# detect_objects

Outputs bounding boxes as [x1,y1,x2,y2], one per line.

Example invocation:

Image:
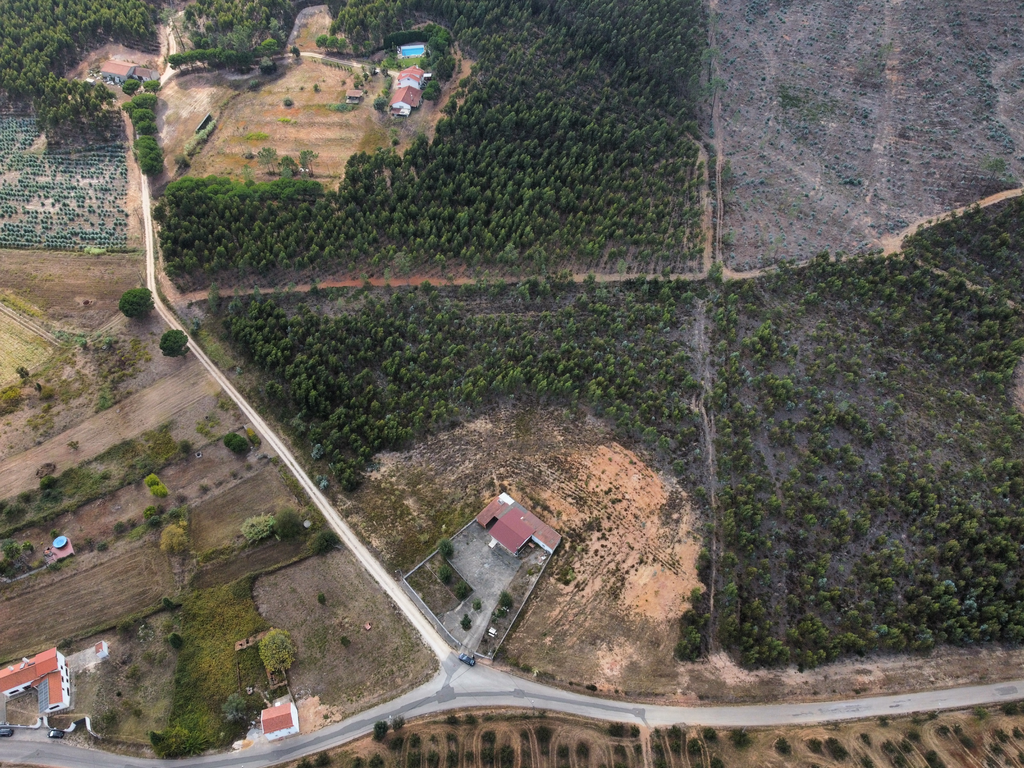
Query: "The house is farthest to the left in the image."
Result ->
[0,647,69,716]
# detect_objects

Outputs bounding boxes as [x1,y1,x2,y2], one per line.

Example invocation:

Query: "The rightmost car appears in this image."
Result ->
[457,653,476,668]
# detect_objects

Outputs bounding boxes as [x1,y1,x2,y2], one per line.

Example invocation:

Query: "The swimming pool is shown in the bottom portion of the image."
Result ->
[52,535,69,550]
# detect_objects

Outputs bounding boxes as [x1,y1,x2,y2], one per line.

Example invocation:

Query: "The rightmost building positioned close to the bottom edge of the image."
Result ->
[261,702,298,738]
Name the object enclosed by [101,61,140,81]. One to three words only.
barn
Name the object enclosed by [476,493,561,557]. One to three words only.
building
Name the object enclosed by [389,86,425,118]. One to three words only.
house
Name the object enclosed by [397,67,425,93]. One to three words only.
building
